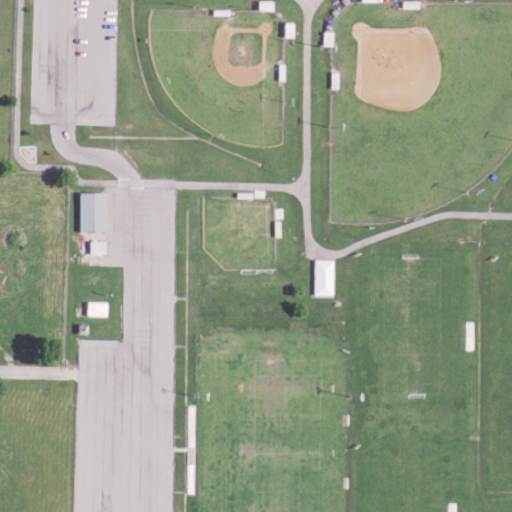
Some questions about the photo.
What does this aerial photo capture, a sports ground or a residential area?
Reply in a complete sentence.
This looks like a sports ground.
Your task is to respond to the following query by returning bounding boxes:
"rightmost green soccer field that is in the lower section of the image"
[380,252,444,398]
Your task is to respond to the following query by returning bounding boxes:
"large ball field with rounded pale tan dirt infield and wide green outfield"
[332,2,512,224]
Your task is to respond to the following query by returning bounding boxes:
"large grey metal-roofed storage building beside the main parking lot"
[80,193,108,232]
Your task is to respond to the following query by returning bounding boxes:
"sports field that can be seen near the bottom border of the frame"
[202,334,342,512]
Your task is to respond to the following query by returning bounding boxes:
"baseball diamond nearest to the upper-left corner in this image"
[148,10,284,148]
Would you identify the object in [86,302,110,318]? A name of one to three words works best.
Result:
building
